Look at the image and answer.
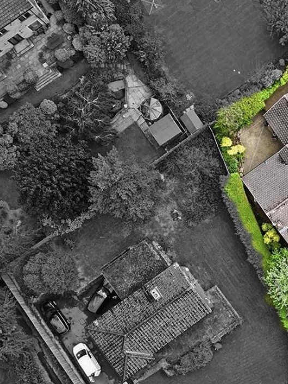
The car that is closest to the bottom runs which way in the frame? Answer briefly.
diagonally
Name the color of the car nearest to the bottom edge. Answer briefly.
white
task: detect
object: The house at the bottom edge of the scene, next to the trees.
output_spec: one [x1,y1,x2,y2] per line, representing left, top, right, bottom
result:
[85,240,211,382]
